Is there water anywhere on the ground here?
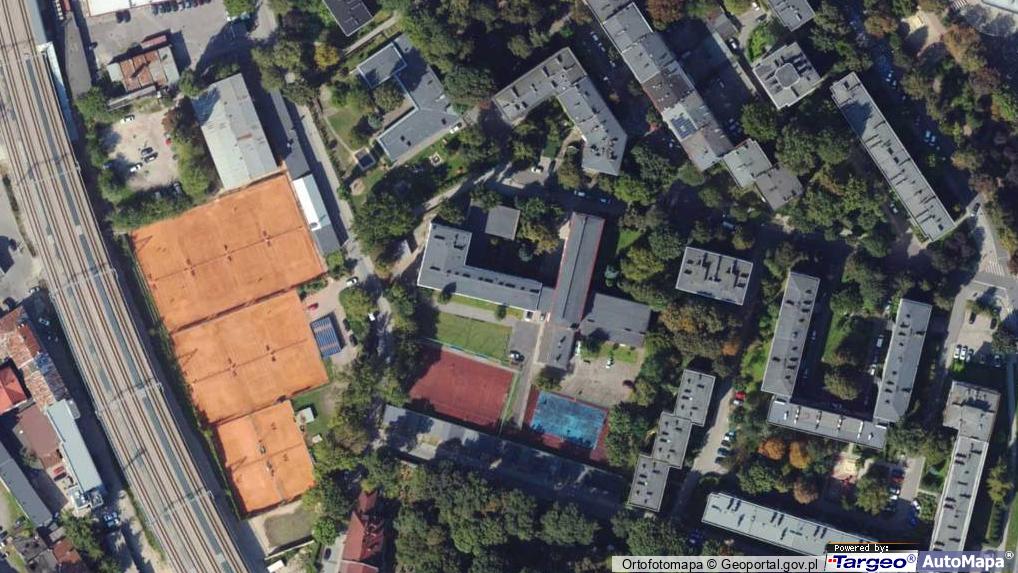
No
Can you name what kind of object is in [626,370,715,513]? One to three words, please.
building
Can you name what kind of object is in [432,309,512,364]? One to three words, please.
sports field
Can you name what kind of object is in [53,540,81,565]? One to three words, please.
shed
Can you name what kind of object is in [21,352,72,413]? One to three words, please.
house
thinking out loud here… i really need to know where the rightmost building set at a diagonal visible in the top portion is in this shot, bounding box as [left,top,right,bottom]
[829,72,955,243]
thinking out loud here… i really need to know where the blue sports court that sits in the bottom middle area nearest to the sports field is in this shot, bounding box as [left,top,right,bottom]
[519,386,609,469]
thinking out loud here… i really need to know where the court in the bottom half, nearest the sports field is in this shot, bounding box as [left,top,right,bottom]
[402,339,519,429]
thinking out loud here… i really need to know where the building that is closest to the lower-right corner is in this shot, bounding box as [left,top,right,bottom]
[923,437,988,573]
